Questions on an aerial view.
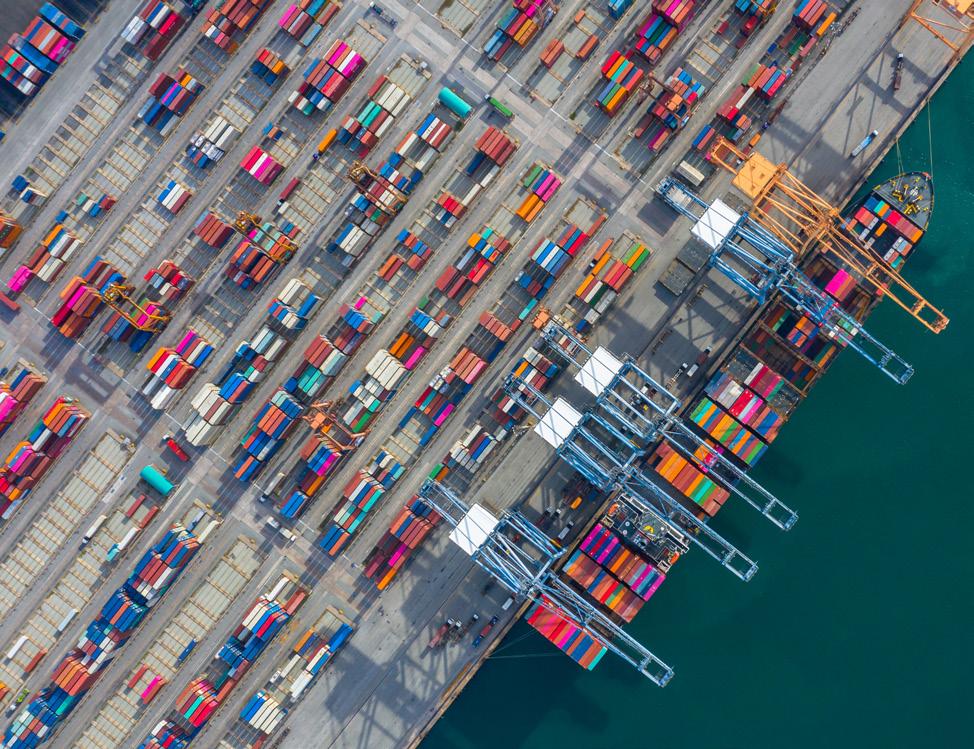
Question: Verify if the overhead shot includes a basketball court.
No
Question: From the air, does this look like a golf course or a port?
port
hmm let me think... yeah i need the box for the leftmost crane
[103,275,184,332]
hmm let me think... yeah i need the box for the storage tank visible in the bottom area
[139,467,177,497]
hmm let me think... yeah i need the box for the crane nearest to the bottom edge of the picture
[420,480,672,685]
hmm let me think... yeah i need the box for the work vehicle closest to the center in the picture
[513,416,536,432]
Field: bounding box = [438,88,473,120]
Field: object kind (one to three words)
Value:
storage tank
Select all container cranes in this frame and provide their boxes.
[695,131,953,342]
[634,68,697,137]
[343,155,411,219]
[657,180,912,390]
[420,480,672,685]
[308,392,378,446]
[502,375,755,583]
[103,275,184,332]
[900,0,974,65]
[234,199,308,261]
[534,303,592,358]
[543,324,797,532]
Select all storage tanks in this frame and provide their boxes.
[139,467,177,497]
[438,88,473,120]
